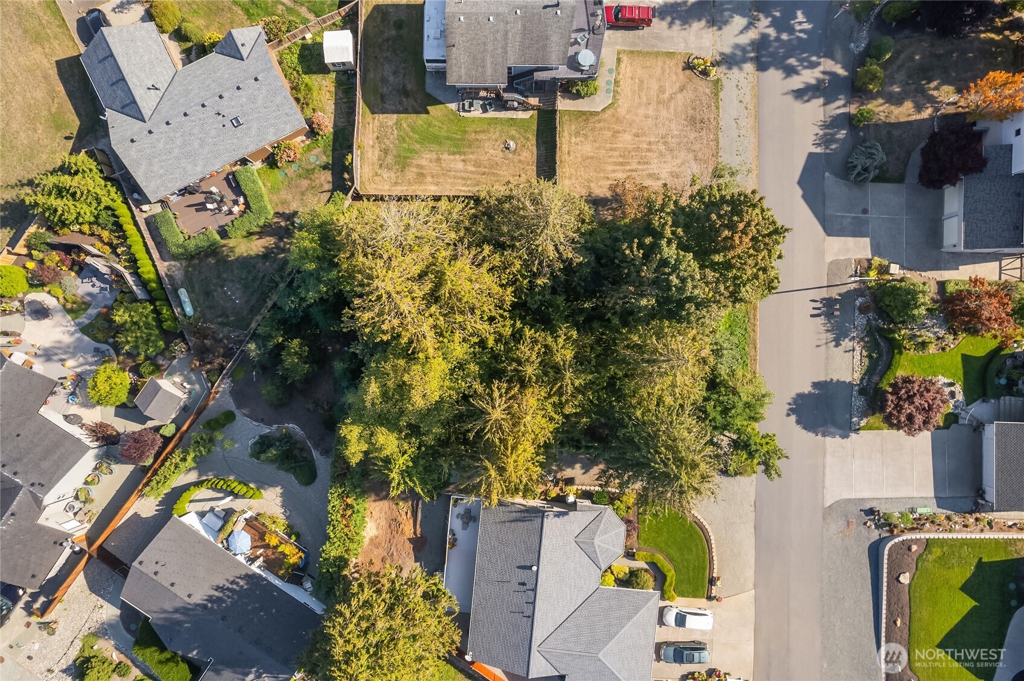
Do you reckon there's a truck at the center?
No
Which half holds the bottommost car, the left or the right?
right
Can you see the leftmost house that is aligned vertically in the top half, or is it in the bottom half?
bottom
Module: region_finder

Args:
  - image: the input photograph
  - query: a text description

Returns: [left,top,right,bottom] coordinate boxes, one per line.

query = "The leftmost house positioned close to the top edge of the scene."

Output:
[79,21,310,204]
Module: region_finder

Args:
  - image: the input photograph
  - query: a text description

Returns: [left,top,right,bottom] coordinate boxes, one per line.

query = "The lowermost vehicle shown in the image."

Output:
[659,638,709,665]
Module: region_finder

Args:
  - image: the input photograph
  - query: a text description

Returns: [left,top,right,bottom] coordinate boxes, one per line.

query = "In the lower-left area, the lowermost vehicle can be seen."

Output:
[0,586,33,629]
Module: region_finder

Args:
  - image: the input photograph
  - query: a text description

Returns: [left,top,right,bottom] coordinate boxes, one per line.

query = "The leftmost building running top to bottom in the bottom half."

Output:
[0,350,105,590]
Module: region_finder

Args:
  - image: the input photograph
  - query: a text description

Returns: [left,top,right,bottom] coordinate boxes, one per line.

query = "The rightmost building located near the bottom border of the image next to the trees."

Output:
[465,498,660,681]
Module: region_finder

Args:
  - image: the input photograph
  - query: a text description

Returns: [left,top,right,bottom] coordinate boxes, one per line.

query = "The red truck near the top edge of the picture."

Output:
[595,5,660,34]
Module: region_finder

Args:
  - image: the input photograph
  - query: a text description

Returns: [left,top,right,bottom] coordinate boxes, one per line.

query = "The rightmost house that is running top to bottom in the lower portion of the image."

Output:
[981,421,1024,511]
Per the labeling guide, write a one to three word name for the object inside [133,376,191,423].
shed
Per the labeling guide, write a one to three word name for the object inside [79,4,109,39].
car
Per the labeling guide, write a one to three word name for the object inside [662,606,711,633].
car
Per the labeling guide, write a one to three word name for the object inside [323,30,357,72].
shed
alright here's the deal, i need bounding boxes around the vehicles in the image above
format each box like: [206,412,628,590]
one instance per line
[595,5,660,34]
[659,638,709,665]
[79,4,109,39]
[0,586,33,629]
[425,0,444,72]
[662,606,711,633]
